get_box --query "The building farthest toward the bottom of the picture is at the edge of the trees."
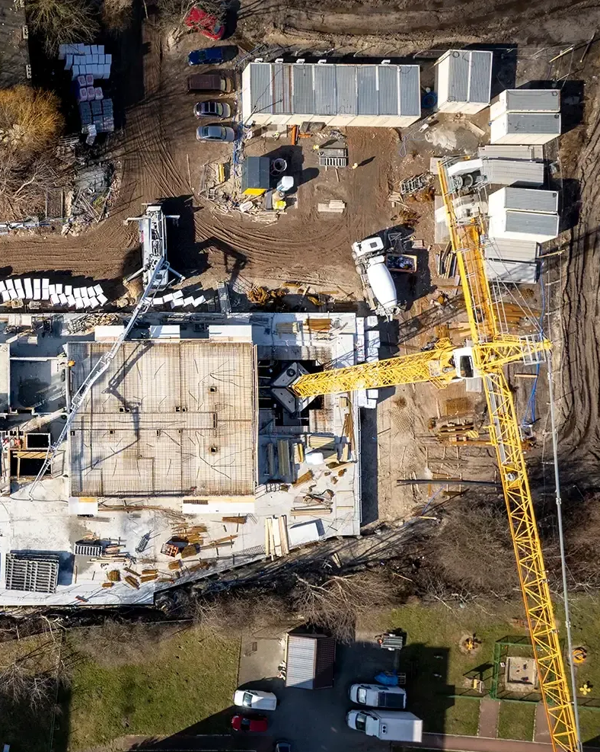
[281,632,336,693]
